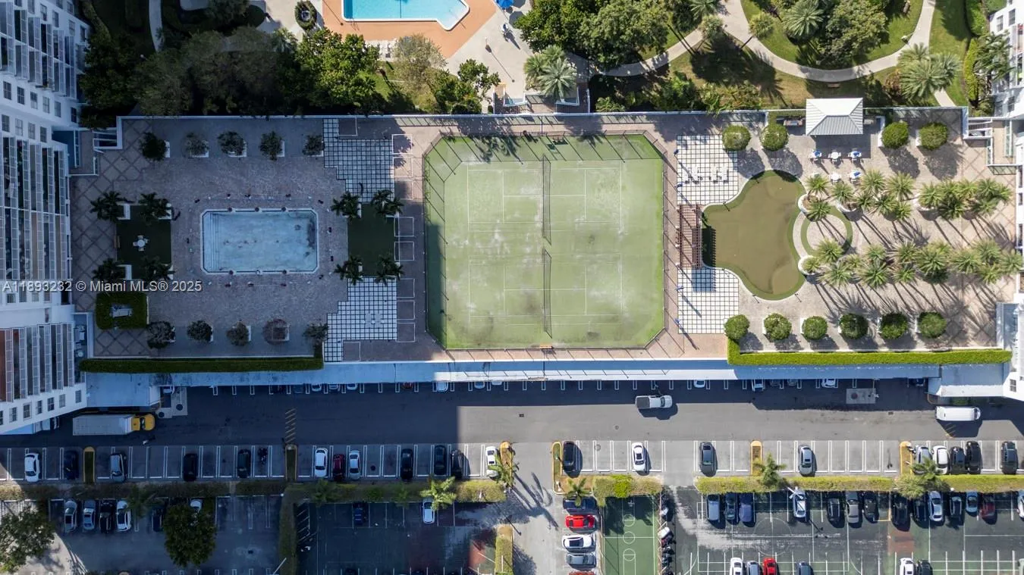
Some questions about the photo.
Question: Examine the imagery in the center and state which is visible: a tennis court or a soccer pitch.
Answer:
tennis court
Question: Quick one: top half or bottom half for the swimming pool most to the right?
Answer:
top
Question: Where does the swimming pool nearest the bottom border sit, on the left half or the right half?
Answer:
left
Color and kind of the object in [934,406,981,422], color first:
white vehicle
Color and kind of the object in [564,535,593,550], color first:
white car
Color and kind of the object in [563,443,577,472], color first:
black car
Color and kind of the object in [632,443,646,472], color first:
white car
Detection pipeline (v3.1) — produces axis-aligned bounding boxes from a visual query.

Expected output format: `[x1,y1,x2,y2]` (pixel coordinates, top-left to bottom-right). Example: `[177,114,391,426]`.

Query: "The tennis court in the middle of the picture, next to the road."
[426,135,665,349]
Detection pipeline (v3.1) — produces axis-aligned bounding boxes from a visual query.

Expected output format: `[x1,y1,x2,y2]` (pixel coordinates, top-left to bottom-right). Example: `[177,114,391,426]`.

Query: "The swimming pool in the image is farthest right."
[322,0,497,58]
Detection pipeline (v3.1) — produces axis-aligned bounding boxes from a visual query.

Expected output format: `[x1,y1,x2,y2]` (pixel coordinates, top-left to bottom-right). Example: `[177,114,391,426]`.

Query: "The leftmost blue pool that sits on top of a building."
[200,209,318,274]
